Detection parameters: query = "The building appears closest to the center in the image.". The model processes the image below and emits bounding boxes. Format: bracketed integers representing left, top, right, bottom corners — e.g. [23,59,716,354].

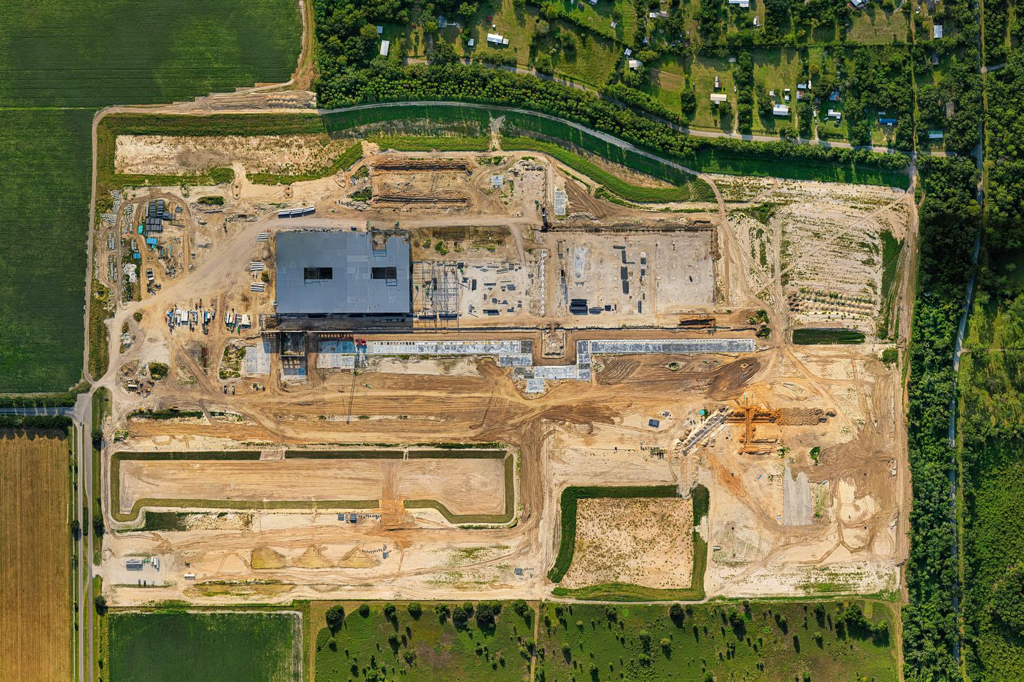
[274,230,409,313]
